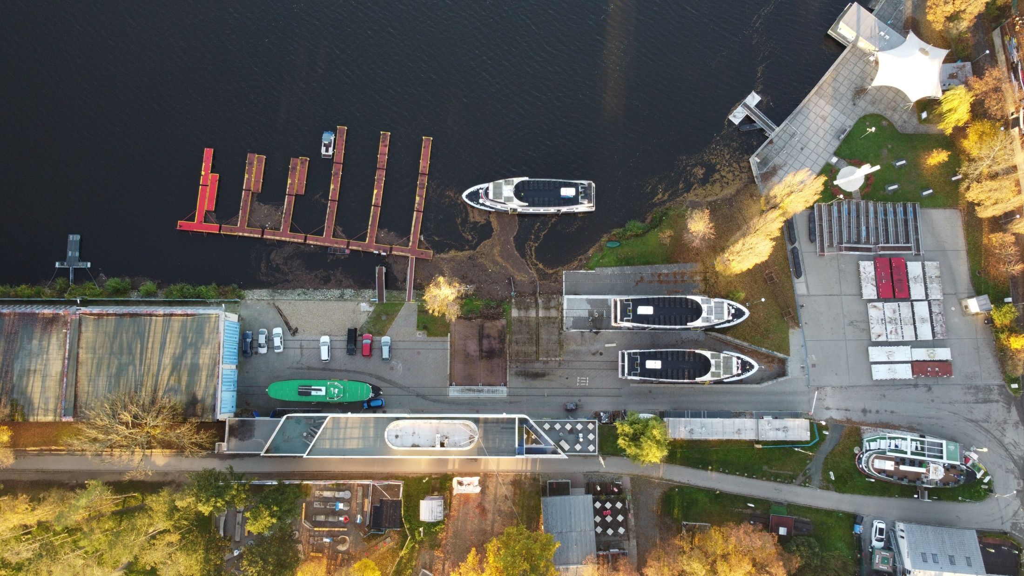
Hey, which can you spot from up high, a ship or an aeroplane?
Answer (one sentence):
Looking from above, you can make out a ship.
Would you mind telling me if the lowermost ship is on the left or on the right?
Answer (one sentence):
It is on the right.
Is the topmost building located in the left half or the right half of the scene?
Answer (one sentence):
It is on the right.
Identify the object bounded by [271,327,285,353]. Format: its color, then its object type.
white car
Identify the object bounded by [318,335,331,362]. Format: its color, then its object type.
white vehicle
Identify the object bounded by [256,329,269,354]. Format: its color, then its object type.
white vehicle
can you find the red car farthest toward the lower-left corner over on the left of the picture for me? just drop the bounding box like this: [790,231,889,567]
[361,333,373,358]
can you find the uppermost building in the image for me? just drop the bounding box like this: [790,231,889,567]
[824,2,906,62]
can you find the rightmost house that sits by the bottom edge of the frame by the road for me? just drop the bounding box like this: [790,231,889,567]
[886,522,987,576]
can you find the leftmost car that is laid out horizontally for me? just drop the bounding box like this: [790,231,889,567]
[363,398,386,410]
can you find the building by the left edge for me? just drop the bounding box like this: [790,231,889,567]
[0,306,252,421]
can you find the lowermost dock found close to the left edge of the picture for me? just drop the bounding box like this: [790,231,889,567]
[46,234,98,289]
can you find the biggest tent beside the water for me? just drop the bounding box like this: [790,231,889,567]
[848,30,950,121]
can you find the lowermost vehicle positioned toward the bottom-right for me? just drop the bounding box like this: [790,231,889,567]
[870,518,887,549]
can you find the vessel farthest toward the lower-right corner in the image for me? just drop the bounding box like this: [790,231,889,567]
[849,433,975,501]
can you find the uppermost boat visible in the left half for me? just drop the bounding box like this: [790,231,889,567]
[322,132,335,160]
